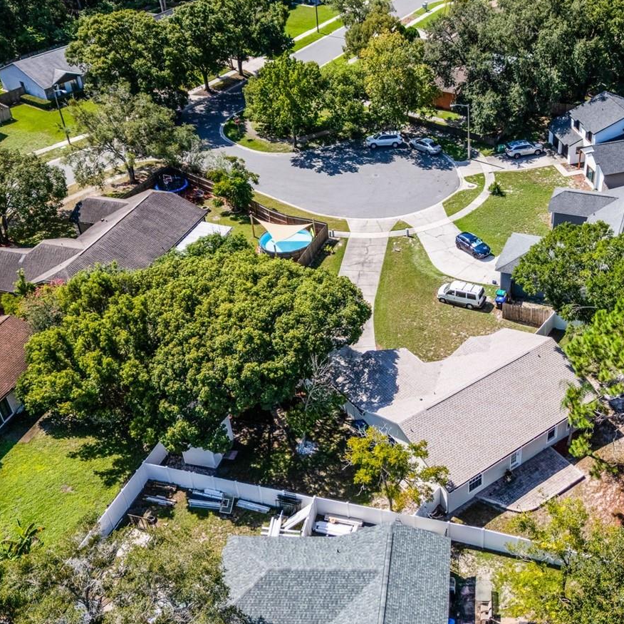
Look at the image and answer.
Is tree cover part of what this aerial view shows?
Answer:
Yes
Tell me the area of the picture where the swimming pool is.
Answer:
center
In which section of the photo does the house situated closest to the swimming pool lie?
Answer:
left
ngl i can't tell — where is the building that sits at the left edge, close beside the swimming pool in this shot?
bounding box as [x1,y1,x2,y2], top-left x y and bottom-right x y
[0,186,237,318]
